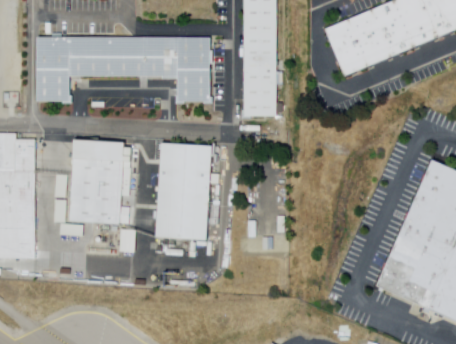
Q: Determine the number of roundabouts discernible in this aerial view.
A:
0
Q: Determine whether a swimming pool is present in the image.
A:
No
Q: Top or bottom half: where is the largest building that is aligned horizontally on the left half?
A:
top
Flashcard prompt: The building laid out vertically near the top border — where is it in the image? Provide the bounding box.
[242,0,283,120]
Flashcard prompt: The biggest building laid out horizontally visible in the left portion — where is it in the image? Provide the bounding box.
[36,37,213,104]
